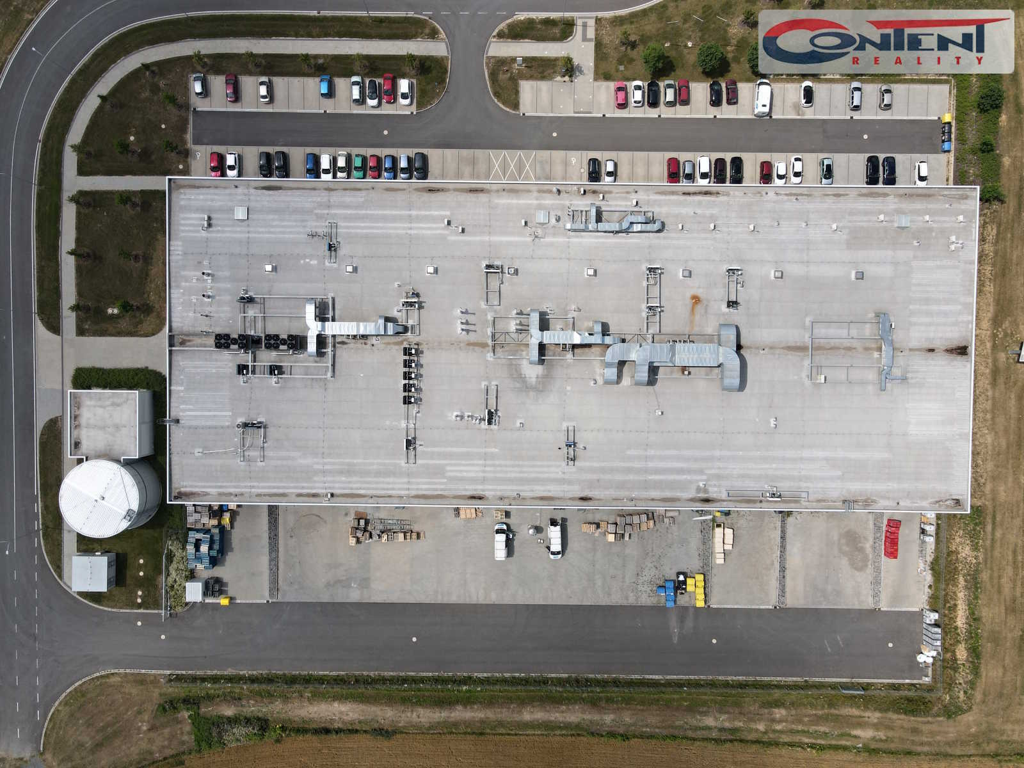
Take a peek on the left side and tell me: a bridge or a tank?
tank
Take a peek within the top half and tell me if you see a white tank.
No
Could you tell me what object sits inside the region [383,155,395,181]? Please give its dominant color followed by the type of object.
blue vehicle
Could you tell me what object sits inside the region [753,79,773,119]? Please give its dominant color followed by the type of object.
white vehicle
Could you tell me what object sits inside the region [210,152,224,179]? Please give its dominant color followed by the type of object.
red car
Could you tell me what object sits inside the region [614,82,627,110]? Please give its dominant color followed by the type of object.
pink vehicle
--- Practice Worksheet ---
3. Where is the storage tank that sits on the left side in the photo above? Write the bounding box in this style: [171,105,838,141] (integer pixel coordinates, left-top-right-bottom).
[59,457,162,538]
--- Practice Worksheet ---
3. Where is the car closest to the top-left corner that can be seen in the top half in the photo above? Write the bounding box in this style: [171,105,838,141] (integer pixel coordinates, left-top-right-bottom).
[192,73,207,98]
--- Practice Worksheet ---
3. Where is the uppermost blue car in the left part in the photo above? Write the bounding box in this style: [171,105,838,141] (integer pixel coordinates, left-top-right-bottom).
[319,76,332,99]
